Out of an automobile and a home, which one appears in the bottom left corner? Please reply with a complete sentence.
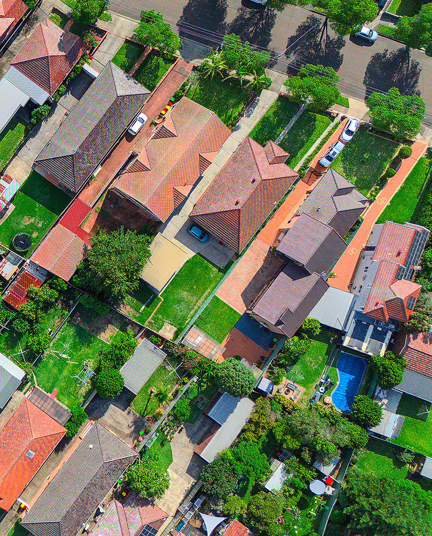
Visible in the bottom left corner is a home.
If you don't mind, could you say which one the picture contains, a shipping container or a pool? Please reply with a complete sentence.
Of the two, only a pool appears.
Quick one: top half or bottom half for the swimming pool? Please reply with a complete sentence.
It is in the bottom half that the swimming pool appears.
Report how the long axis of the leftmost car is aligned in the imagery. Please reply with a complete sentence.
The leftmost car is oriented diagonally.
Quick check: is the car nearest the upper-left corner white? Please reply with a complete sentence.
Yes, the car nearest the upper-left corner is indeed white.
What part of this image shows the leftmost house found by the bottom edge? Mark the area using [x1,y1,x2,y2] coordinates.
[0,399,65,511]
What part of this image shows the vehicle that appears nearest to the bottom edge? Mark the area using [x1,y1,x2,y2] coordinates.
[184,221,210,243]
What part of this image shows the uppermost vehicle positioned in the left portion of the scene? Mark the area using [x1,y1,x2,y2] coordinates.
[125,111,148,136]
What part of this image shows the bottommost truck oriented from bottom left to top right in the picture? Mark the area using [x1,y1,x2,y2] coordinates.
[316,140,346,171]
